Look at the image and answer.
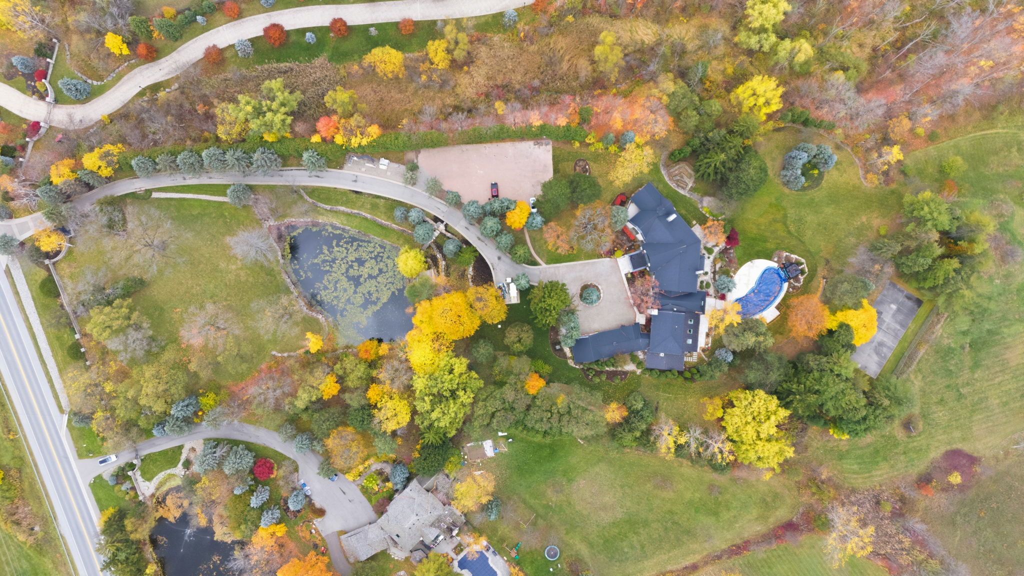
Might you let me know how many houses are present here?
2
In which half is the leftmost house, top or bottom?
bottom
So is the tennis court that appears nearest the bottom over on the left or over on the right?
right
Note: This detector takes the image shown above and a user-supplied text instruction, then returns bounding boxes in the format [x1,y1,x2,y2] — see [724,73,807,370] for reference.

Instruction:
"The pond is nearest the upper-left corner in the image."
[288,223,413,343]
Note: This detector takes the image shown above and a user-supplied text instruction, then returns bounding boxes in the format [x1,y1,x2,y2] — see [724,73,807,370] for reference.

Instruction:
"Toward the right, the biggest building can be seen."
[575,182,706,371]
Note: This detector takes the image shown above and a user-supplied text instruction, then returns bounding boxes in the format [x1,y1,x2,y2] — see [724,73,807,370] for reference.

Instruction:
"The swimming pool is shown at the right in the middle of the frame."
[723,259,789,323]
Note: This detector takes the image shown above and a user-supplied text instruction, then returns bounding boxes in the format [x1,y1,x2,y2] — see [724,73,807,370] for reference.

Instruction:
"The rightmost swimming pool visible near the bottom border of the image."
[453,542,510,576]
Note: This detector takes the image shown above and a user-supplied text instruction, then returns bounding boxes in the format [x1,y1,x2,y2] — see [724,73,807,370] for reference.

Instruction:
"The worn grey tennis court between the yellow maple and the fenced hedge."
[847,281,923,378]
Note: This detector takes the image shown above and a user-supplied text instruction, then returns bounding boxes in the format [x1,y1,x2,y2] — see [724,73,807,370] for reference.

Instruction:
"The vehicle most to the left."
[95,453,117,466]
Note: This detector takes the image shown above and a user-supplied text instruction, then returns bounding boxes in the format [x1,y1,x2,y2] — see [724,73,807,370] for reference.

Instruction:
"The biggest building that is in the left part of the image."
[340,477,465,562]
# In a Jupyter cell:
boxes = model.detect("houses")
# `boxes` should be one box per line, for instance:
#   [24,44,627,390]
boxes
[340,477,465,562]
[575,182,706,371]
